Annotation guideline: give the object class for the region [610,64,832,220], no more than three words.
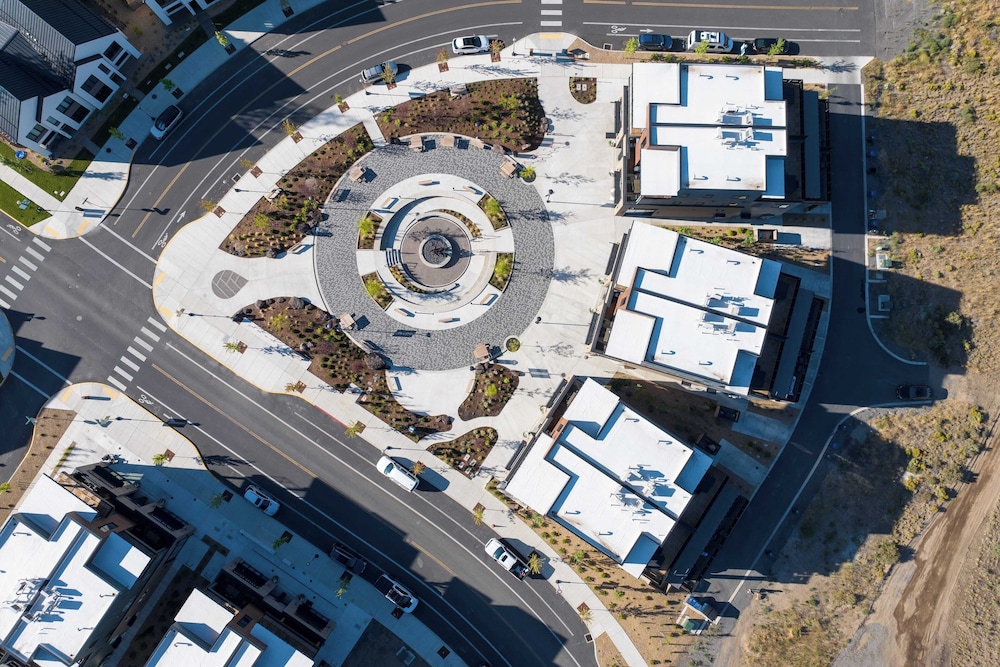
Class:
building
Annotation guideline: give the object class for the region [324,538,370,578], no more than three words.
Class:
truck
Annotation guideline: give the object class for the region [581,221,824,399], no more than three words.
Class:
building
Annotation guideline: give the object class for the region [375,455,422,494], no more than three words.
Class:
van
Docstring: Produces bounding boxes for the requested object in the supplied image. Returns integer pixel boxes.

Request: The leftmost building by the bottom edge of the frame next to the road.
[0,461,199,667]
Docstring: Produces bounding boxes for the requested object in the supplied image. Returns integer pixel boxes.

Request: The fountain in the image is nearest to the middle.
[419,235,453,269]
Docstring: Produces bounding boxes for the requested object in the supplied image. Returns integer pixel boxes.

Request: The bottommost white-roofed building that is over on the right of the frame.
[501,370,747,595]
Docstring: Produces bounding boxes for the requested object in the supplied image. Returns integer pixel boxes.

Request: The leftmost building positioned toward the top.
[0,0,143,156]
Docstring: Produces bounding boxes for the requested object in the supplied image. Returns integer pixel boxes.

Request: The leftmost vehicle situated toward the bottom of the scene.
[240,482,280,517]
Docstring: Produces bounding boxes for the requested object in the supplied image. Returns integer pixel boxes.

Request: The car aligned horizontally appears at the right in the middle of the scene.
[894,383,935,402]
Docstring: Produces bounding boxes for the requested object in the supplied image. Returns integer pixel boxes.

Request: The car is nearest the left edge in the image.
[150,104,186,140]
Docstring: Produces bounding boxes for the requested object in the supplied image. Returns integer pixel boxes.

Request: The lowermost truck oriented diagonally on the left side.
[371,569,422,617]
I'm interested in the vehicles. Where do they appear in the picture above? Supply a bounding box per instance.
[150,104,186,140]
[358,61,400,86]
[482,535,532,584]
[371,569,422,617]
[894,383,935,402]
[375,455,422,494]
[324,538,370,578]
[752,36,790,56]
[637,32,674,52]
[684,29,731,55]
[450,33,490,56]
[240,482,280,517]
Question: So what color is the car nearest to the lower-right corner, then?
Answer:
black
